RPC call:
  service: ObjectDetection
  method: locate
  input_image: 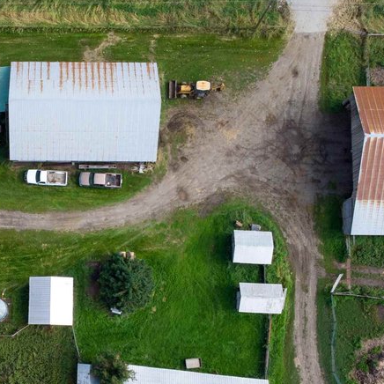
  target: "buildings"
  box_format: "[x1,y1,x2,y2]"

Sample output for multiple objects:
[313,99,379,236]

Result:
[329,86,384,237]
[77,363,102,384]
[127,364,268,384]
[230,230,273,265]
[29,276,74,326]
[7,62,161,165]
[233,283,286,314]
